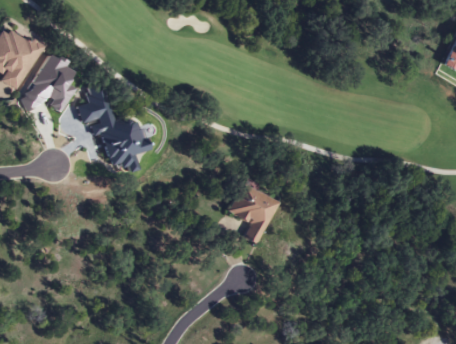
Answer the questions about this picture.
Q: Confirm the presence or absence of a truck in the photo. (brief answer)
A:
No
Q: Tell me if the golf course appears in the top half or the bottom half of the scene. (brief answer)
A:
top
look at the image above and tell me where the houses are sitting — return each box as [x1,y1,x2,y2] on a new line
[78,82,156,172]
[230,187,280,242]
[444,40,456,68]
[20,52,80,116]
[0,30,44,88]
